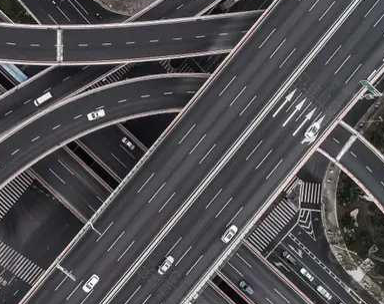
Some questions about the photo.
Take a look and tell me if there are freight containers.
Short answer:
No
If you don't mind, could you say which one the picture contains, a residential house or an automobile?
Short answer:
automobile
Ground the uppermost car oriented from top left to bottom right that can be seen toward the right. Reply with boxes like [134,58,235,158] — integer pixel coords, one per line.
[281,248,297,263]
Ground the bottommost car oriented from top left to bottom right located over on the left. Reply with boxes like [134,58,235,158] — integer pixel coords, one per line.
[120,136,136,152]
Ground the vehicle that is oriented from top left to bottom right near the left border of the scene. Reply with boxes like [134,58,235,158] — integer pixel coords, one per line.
[0,64,26,83]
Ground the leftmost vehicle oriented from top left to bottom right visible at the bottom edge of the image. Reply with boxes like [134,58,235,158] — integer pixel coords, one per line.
[238,279,255,296]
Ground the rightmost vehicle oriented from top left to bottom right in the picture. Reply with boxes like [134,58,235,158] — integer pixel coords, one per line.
[316,284,334,301]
